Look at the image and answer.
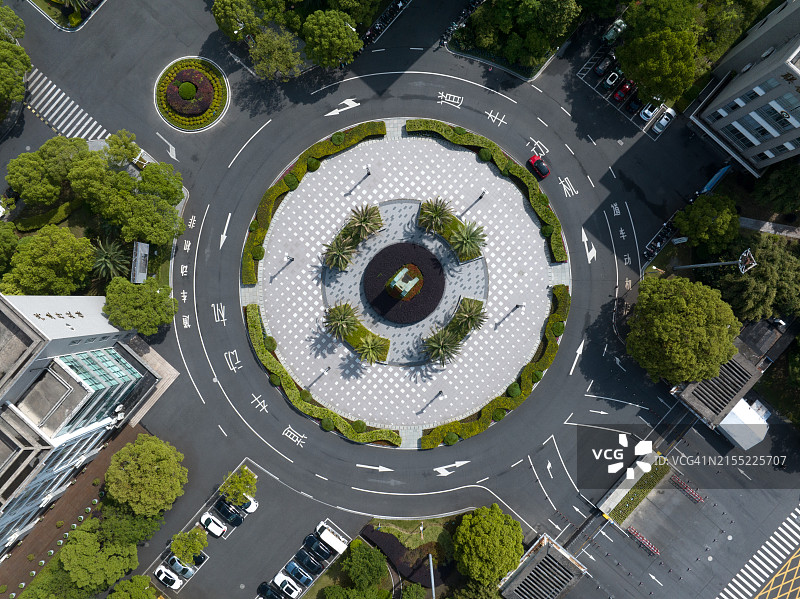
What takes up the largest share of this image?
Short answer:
paved ground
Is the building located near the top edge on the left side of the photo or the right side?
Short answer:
right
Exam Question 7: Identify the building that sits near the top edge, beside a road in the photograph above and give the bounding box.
[677,0,800,180]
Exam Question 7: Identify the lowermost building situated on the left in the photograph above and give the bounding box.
[0,295,183,538]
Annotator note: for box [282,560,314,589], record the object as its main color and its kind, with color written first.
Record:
blue car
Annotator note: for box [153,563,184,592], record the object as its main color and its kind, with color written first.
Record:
white car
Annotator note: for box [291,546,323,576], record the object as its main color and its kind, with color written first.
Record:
black car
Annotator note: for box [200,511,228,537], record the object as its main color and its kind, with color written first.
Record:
white car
